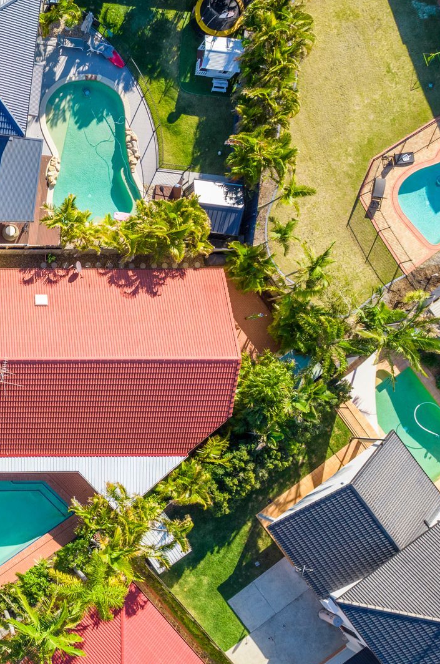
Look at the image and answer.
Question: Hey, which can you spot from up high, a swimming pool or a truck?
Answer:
swimming pool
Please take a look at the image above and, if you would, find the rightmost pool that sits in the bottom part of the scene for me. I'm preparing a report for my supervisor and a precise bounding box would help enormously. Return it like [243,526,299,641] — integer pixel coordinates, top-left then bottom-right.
[376,360,440,485]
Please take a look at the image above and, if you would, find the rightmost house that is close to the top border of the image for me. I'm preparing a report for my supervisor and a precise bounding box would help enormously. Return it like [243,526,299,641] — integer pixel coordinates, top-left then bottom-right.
[199,33,243,94]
